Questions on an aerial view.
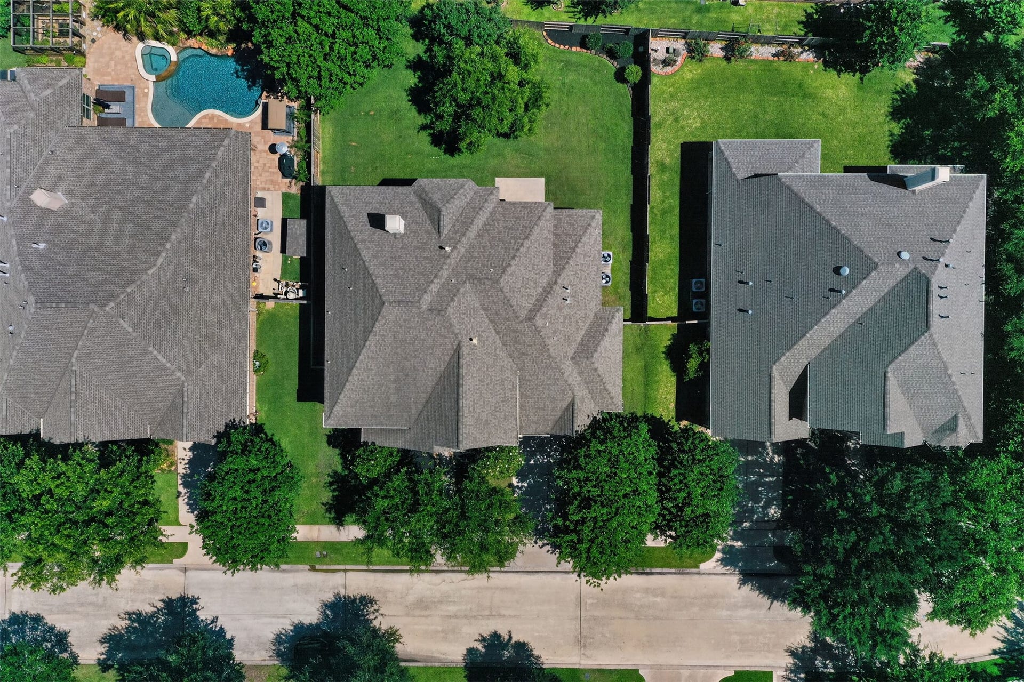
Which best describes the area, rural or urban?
urban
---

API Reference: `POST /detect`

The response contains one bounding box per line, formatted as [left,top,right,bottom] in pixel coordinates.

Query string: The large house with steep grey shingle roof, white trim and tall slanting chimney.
[706,137,988,448]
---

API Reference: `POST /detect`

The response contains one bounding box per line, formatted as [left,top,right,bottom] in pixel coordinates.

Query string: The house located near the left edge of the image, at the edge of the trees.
[0,67,258,445]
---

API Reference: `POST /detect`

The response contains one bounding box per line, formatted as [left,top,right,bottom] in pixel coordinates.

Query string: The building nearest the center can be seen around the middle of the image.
[323,177,624,451]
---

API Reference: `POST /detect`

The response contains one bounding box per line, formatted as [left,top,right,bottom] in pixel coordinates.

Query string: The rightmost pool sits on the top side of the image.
[177,48,261,67]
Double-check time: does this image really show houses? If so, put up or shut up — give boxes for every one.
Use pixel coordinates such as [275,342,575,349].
[0,67,258,445]
[706,137,988,448]
[323,177,624,451]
